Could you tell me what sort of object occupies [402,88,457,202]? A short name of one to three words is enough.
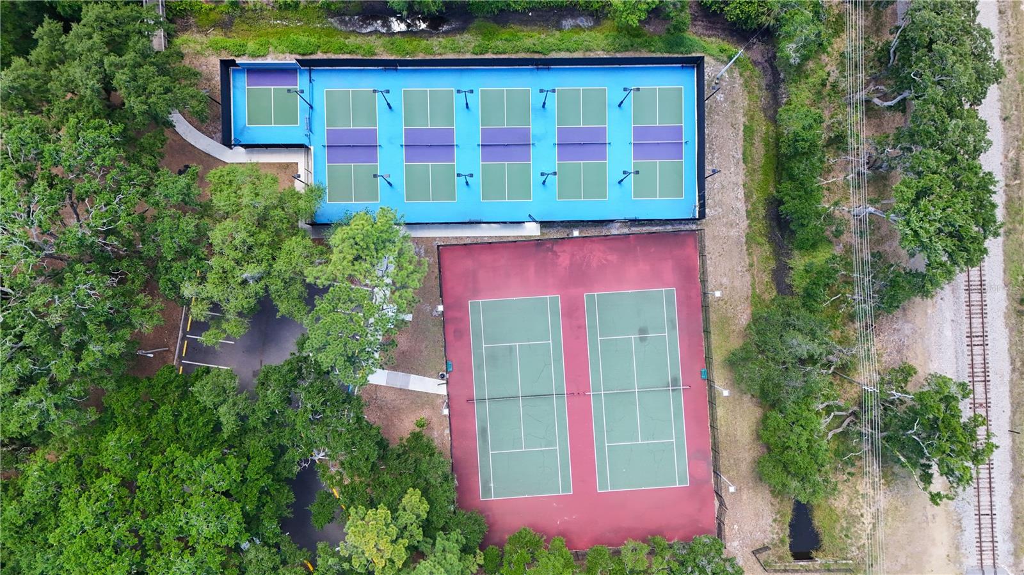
sports court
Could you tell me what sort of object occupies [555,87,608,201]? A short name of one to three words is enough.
sports court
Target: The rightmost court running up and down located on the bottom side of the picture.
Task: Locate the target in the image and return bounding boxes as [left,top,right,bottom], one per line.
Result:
[585,288,689,492]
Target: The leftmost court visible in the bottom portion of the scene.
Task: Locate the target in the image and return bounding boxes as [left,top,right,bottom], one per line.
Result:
[469,295,572,500]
